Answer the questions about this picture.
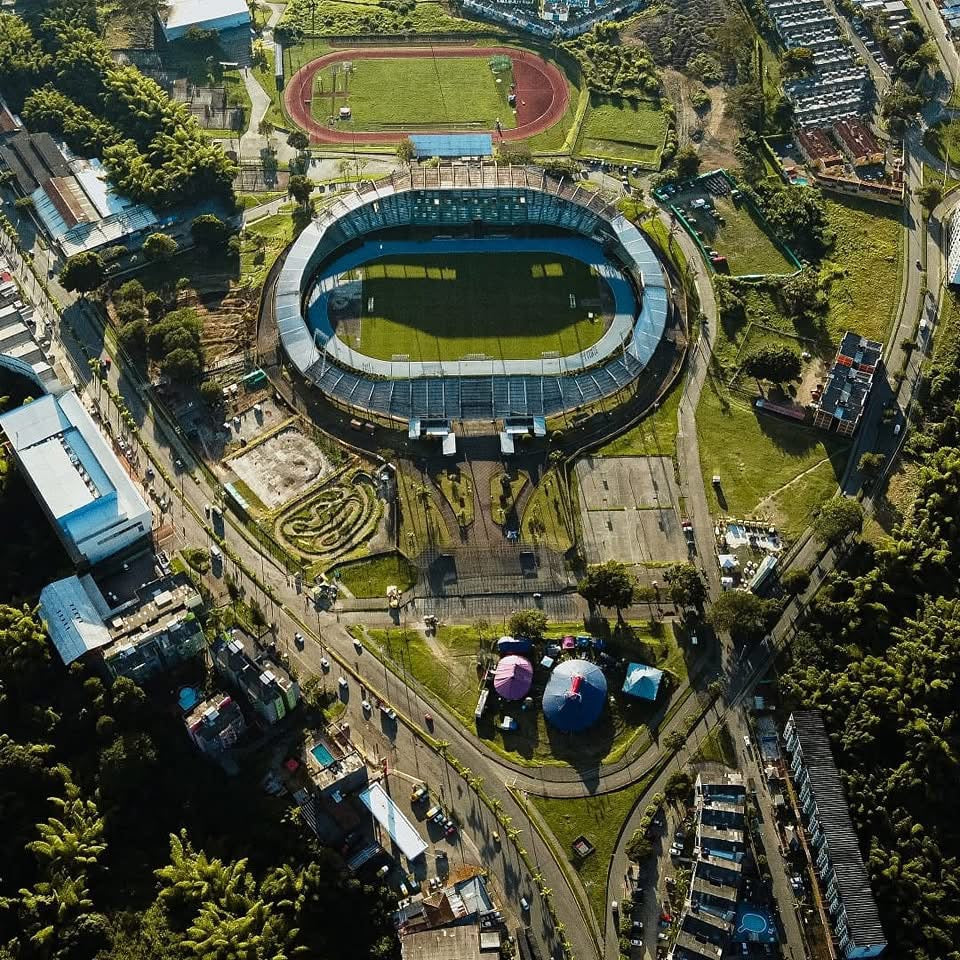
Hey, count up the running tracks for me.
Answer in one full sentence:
Altogether the scene contains 2 running tracks.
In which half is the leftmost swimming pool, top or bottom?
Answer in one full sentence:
The leftmost swimming pool is in the bottom half of the image.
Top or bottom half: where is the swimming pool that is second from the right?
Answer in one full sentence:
It is in the bottom half that the swimming pool that is second from the right appears.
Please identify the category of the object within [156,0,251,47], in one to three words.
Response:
building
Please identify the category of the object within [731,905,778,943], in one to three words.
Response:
swimming pool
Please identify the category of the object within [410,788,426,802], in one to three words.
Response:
vehicle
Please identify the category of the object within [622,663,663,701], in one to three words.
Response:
tent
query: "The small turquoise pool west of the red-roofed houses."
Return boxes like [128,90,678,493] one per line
[787,172,810,188]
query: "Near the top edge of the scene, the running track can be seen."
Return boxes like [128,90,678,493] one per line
[285,41,570,142]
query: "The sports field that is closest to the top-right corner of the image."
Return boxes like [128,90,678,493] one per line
[574,92,668,170]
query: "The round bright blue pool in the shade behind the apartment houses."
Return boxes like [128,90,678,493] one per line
[173,697,196,717]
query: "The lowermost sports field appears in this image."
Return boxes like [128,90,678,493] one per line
[356,256,606,360]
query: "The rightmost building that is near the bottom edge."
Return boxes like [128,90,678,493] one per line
[769,710,888,960]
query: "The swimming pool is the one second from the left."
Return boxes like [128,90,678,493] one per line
[307,738,340,774]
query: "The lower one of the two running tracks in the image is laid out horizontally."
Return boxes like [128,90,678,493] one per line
[307,236,637,376]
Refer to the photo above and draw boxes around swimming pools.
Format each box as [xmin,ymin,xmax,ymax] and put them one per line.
[307,738,340,774]
[173,697,196,717]
[787,172,810,188]
[731,905,778,943]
